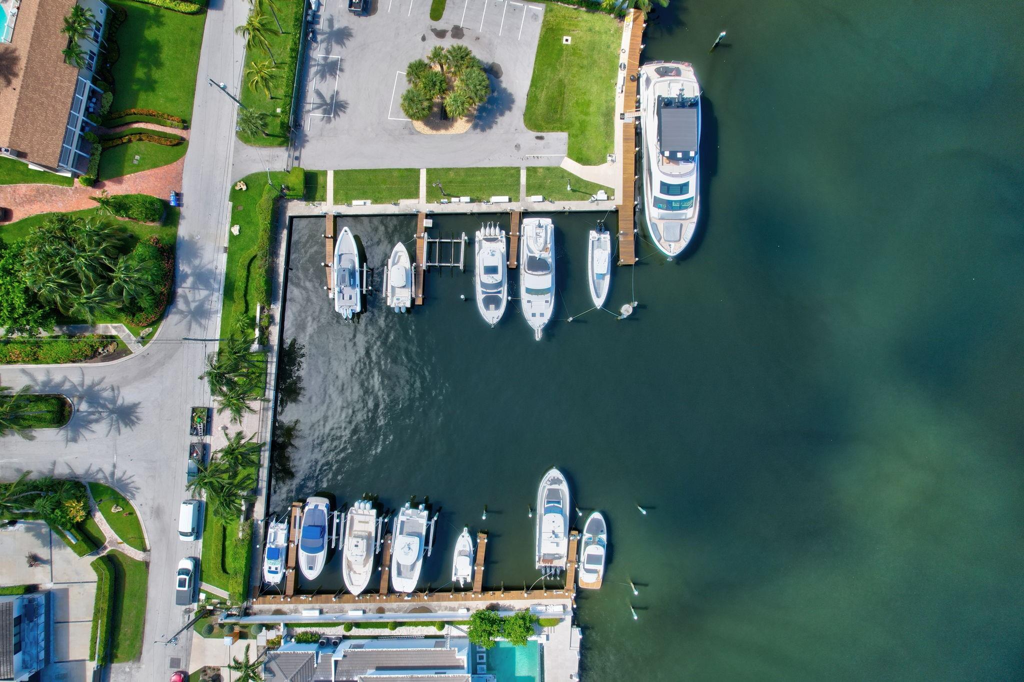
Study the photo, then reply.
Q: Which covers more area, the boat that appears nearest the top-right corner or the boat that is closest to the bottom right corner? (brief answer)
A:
the boat that appears nearest the top-right corner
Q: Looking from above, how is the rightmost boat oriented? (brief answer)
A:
vertically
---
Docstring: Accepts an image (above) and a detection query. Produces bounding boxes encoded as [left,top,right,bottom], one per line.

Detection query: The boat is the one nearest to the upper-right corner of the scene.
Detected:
[639,59,701,259]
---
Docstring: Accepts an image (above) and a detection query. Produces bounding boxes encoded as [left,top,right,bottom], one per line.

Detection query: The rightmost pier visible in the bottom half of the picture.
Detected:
[565,531,578,592]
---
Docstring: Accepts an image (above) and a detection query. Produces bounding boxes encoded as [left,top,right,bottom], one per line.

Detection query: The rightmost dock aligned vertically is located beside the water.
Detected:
[617,11,645,264]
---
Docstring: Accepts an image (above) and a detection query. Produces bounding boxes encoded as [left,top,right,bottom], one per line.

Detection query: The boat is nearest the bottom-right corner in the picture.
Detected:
[579,509,607,589]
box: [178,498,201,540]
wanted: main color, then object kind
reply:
white vehicle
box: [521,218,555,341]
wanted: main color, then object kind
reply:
white boat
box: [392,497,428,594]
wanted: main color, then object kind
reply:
white boat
